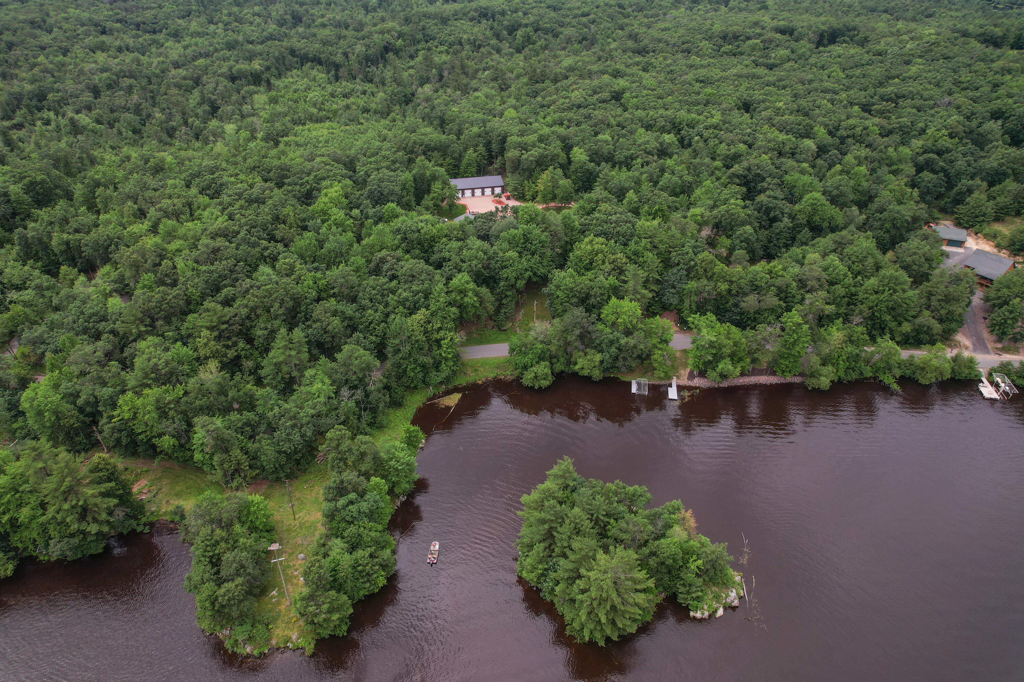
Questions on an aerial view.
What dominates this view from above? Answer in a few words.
trees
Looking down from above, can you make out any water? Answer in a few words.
Yes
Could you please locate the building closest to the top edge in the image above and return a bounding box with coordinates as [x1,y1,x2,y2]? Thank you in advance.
[447,175,505,197]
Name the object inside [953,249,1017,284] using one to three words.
building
